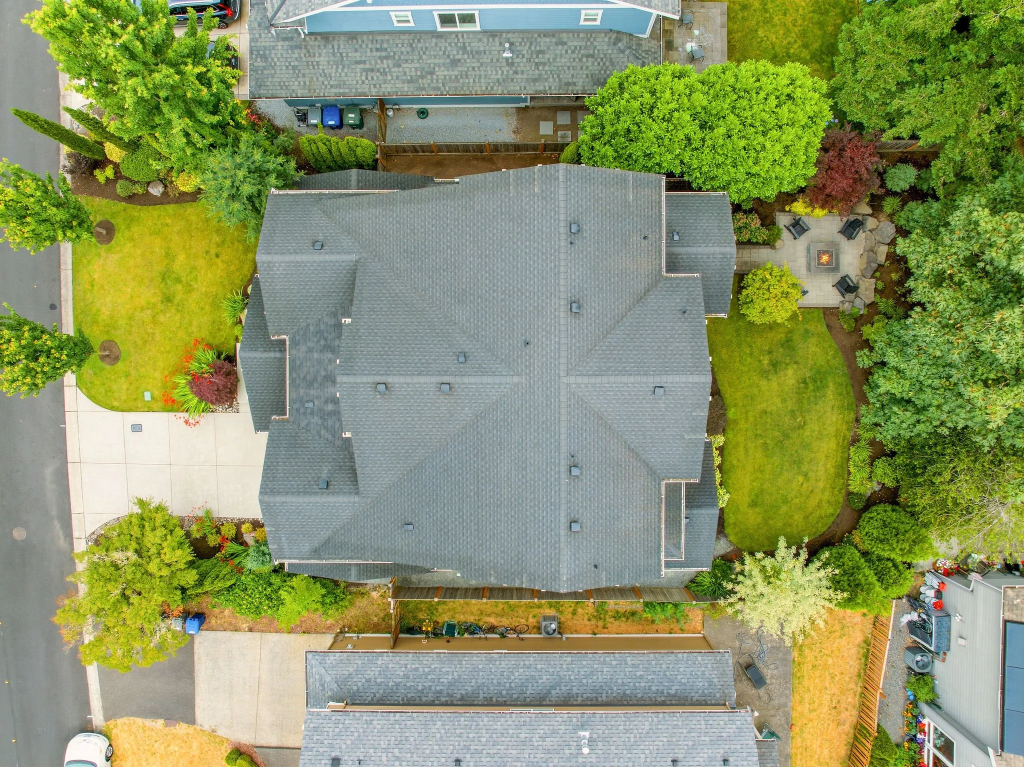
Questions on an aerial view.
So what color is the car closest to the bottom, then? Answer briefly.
white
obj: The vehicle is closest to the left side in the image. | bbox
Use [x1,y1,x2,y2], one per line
[61,731,117,767]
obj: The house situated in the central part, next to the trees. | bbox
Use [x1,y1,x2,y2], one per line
[239,163,736,593]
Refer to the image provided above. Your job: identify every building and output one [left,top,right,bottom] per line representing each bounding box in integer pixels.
[297,630,779,767]
[239,163,736,593]
[234,0,682,108]
[925,565,1024,767]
